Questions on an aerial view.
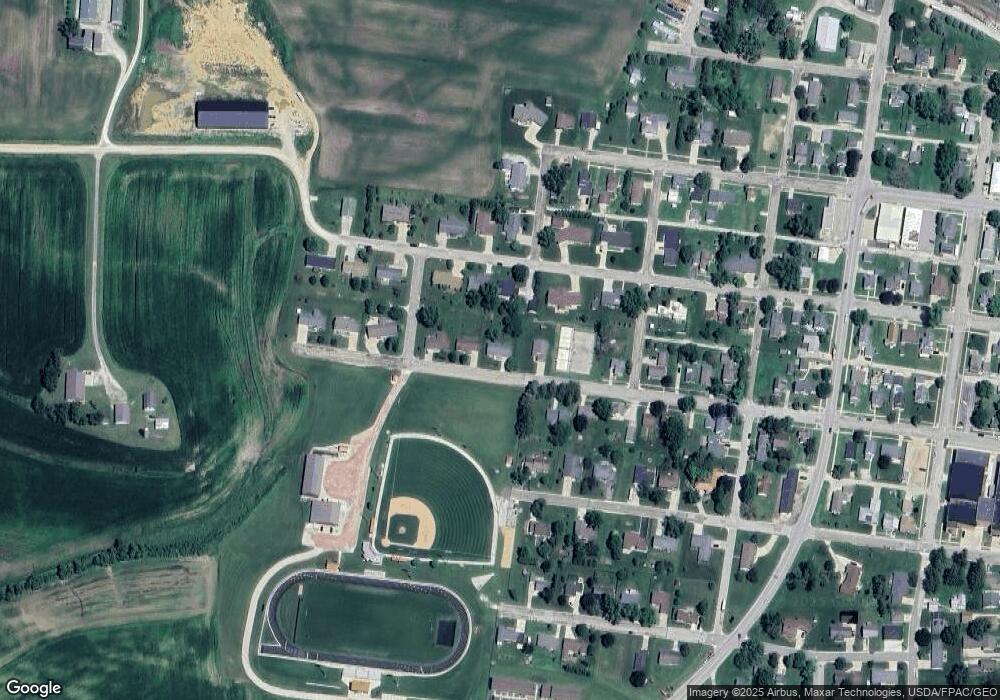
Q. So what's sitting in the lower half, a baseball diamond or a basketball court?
baseball diamond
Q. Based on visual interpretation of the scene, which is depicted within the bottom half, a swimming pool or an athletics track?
athletics track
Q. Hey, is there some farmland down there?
Yes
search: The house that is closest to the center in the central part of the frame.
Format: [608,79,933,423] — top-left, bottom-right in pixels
[485,343,513,359]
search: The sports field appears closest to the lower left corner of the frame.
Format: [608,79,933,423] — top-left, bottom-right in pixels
[275,577,462,667]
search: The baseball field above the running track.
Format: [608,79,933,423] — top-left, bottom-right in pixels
[373,432,497,563]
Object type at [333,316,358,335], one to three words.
house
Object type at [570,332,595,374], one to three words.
tennis court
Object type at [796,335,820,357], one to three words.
building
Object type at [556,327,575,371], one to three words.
tennis court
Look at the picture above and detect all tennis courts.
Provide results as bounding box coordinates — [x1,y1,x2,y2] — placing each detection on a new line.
[570,332,595,374]
[556,327,575,371]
